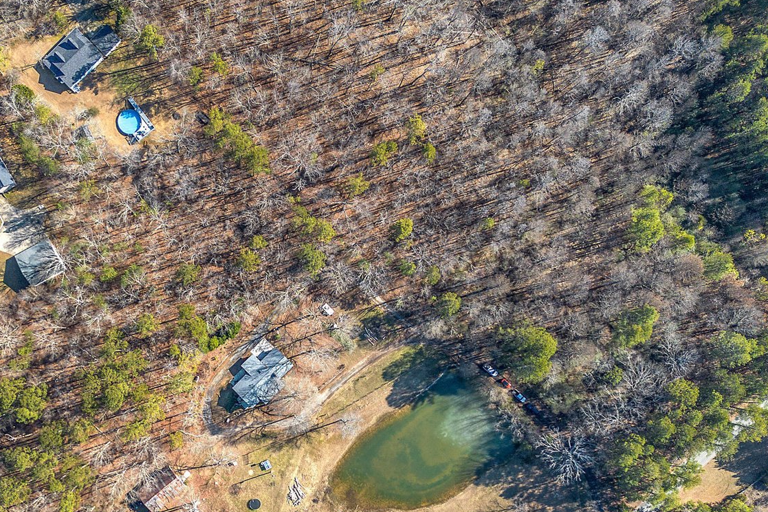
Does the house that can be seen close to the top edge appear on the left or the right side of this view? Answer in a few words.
left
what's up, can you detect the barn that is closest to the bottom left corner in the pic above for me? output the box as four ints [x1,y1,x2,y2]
[136,466,189,512]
